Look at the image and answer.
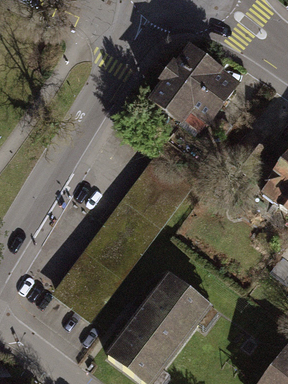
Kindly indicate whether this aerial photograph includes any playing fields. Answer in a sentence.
No, I can see no playing field in this picture.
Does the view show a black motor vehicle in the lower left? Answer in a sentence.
Yes, I can see a black motor vehicle in the lower left.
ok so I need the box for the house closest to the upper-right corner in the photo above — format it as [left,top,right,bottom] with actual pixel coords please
[148,42,247,140]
